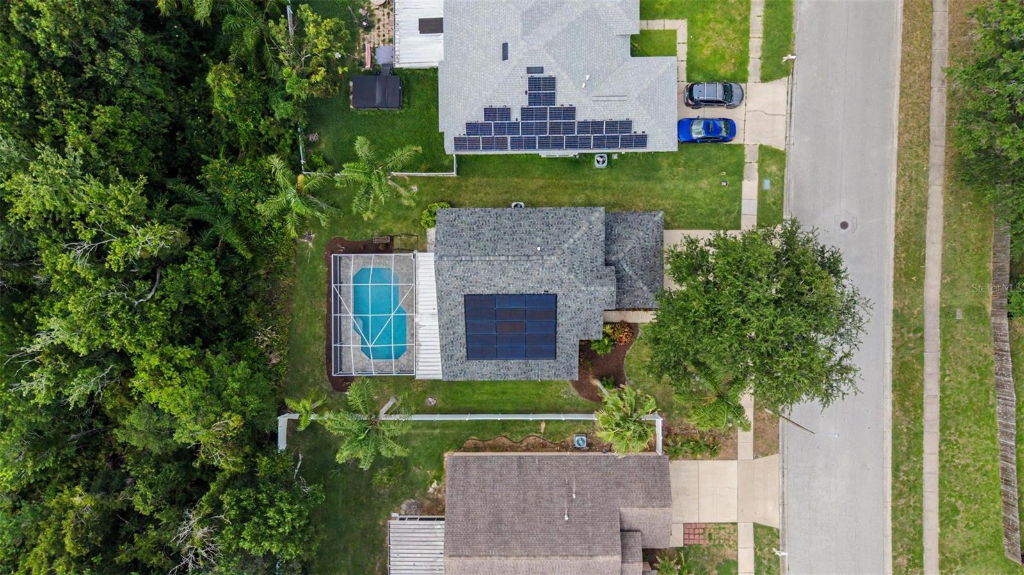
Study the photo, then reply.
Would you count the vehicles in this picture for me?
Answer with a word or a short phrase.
2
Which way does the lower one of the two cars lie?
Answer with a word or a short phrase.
horizontally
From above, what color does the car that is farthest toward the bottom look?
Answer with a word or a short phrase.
blue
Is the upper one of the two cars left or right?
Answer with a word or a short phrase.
right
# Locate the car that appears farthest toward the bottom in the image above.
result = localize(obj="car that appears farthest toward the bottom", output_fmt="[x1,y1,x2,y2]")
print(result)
[677,114,737,143]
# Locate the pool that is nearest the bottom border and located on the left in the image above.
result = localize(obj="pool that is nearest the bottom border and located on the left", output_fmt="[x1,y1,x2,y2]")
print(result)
[350,264,410,363]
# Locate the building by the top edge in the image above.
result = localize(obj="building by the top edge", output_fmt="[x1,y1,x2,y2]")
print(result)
[395,0,678,161]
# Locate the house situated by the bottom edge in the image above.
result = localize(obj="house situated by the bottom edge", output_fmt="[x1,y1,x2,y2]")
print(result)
[388,448,672,575]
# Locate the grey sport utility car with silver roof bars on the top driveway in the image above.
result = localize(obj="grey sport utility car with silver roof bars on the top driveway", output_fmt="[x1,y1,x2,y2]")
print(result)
[683,79,743,110]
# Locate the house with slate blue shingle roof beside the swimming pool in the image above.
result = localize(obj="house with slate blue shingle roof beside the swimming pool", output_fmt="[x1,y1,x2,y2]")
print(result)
[414,207,665,381]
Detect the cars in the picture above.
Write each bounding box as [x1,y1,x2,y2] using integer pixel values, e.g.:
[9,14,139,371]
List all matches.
[683,79,743,110]
[677,114,737,143]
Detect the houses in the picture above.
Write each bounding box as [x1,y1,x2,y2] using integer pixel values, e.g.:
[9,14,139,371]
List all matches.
[395,0,678,161]
[388,448,672,575]
[414,207,665,381]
